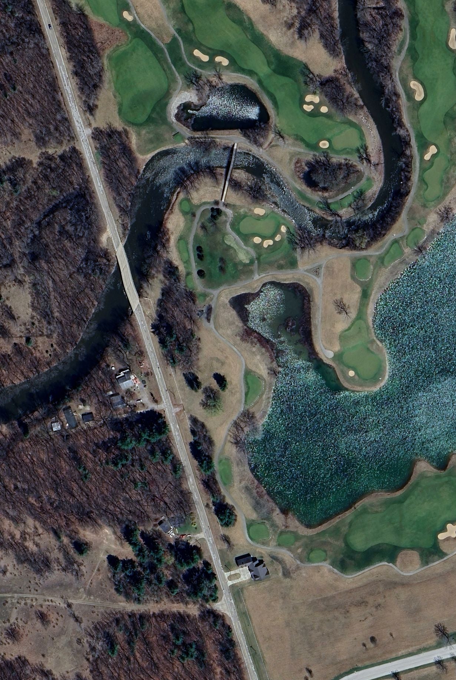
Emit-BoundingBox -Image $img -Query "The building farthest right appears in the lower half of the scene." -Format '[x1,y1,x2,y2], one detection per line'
[236,555,270,583]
